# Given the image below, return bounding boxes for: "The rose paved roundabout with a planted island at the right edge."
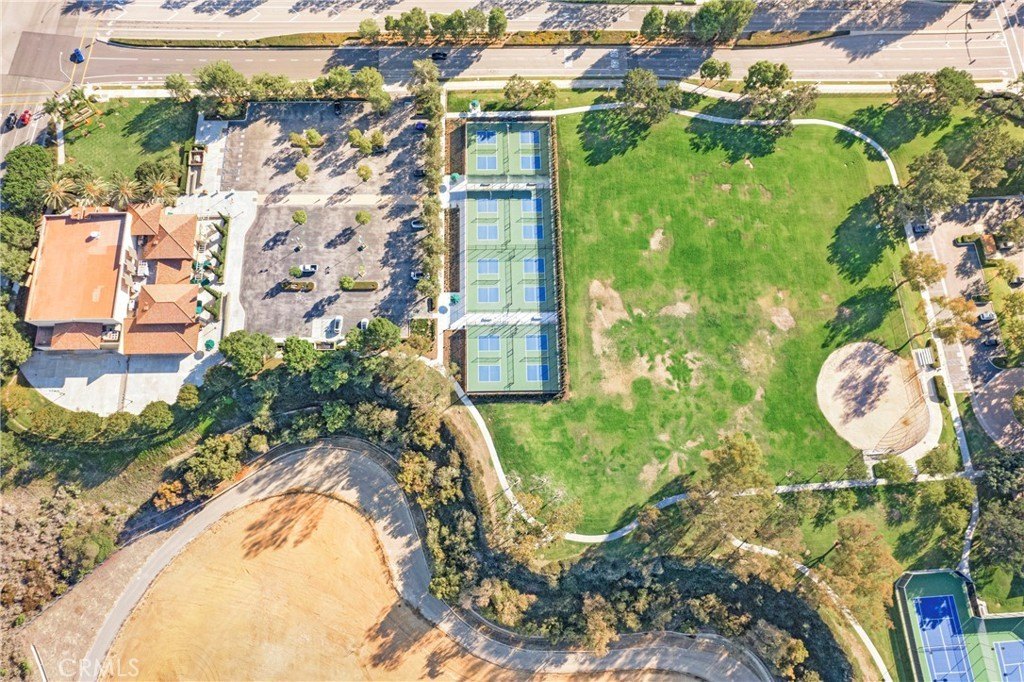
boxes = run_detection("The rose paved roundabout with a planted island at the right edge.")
[965,336,1024,459]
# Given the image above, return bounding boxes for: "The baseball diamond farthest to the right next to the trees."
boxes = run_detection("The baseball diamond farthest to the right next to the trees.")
[817,342,930,454]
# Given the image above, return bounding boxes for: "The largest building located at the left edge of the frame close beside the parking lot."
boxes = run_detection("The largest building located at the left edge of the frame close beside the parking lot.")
[20,202,209,361]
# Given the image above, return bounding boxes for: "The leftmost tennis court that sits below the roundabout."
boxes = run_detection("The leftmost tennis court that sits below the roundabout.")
[905,572,986,682]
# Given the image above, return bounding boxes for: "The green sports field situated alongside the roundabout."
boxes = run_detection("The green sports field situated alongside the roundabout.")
[473,107,931,534]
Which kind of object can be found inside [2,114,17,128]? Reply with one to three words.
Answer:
car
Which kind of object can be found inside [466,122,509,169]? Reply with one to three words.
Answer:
sports court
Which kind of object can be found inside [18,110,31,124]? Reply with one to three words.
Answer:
vehicle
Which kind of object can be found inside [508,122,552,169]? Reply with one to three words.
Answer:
sports court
